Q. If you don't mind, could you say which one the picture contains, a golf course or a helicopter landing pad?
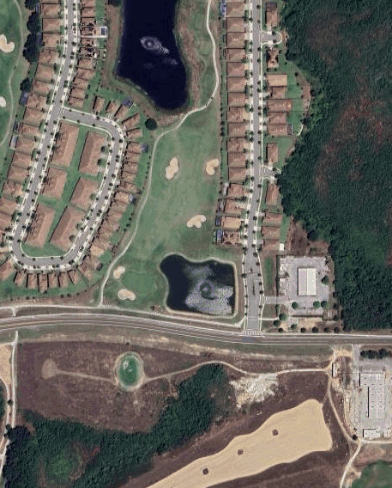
golf course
